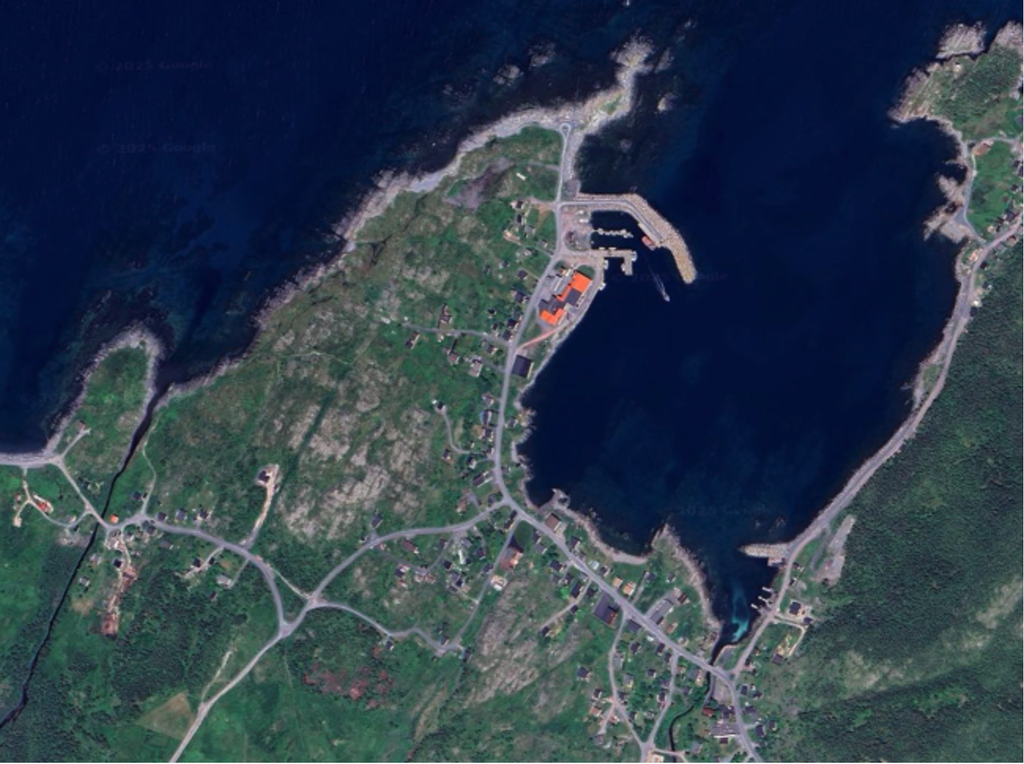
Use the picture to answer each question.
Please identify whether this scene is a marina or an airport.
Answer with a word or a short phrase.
marina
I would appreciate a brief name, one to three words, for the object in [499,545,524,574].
building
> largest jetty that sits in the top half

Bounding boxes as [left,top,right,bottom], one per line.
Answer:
[588,249,634,276]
